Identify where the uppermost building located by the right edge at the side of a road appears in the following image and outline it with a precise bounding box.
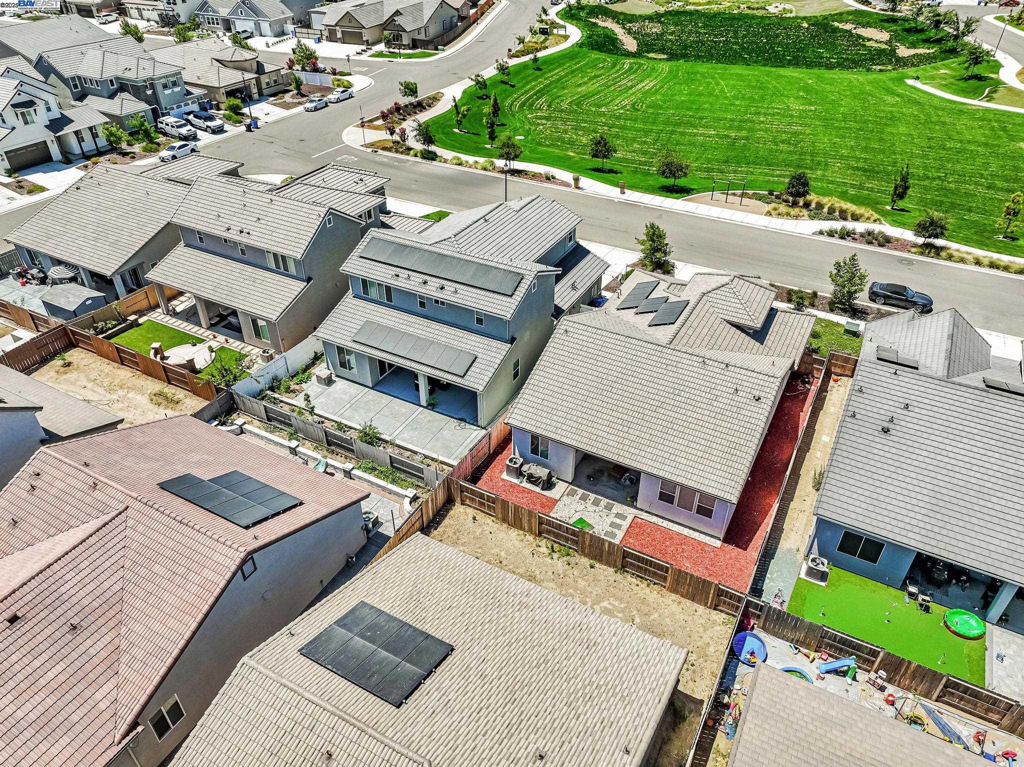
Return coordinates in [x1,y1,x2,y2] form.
[806,302,1024,624]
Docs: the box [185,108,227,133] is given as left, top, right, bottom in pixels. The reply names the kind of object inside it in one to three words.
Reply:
vehicle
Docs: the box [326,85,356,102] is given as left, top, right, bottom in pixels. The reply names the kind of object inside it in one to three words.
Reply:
car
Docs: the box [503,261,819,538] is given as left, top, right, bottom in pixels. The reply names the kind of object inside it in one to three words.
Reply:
house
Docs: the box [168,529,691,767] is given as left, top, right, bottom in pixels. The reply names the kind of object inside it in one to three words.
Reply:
house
